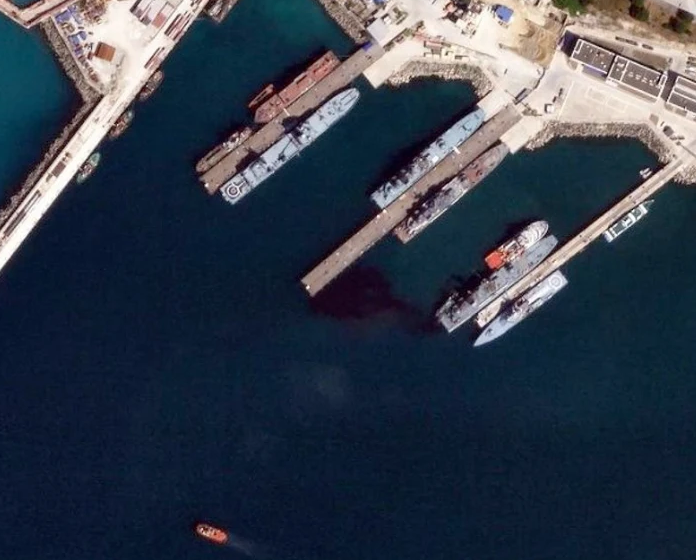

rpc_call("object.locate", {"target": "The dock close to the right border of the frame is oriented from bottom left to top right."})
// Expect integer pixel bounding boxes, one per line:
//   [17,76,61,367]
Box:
[475,158,687,326]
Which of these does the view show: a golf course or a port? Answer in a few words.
port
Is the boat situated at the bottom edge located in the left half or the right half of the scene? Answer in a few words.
left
